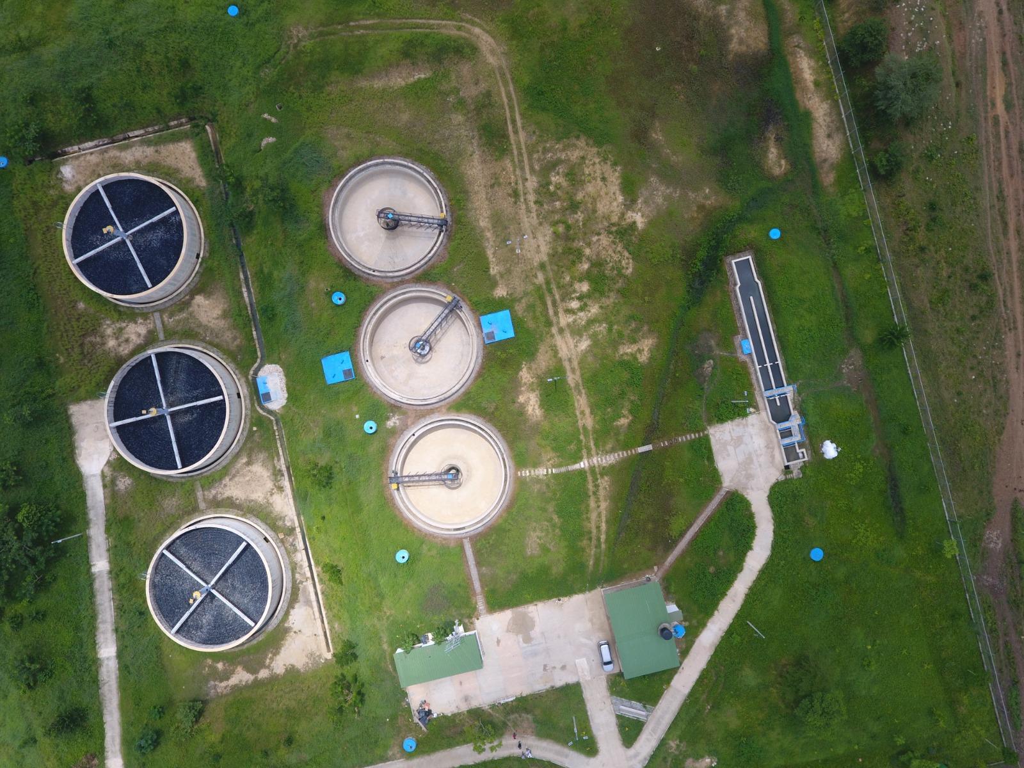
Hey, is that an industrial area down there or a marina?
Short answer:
industrial area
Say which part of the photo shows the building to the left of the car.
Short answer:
bottom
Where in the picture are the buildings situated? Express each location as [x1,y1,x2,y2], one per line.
[605,581,680,680]
[393,627,483,688]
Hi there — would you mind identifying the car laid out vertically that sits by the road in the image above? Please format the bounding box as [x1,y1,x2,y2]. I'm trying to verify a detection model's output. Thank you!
[597,638,616,673]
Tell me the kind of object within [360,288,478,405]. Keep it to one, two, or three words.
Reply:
storage tank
